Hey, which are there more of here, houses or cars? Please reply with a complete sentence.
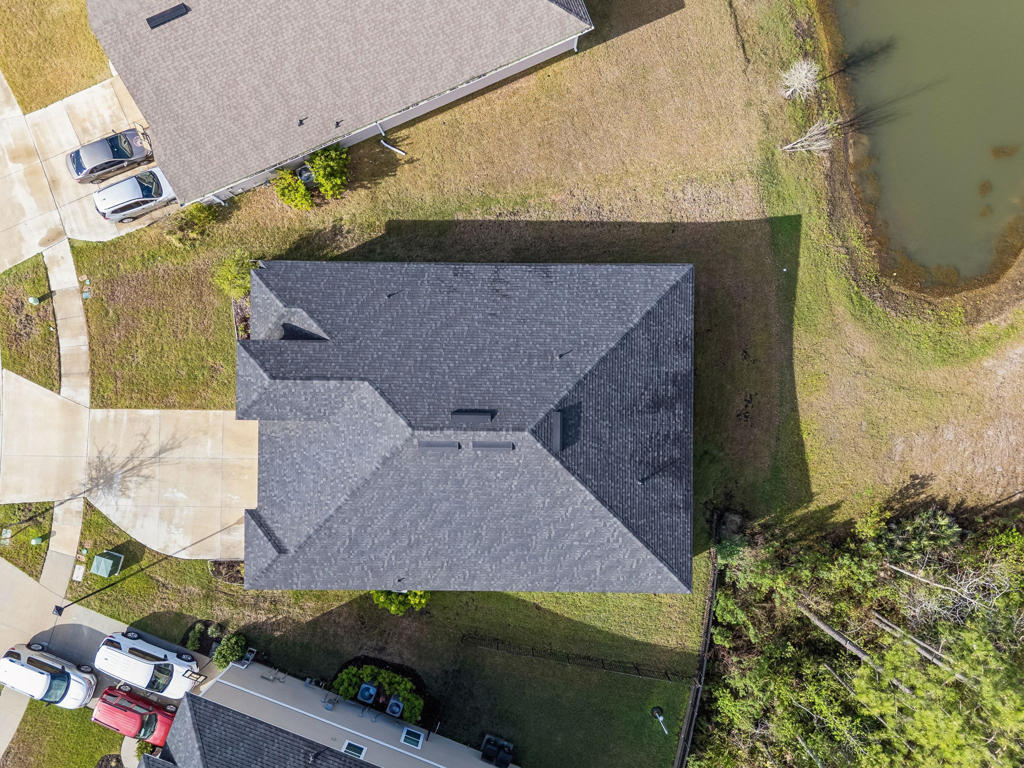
In this view, cars are more numerous than houses.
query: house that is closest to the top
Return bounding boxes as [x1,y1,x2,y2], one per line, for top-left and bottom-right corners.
[85,0,597,209]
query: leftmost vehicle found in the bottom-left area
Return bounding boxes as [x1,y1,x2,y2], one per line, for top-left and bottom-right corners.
[0,639,101,709]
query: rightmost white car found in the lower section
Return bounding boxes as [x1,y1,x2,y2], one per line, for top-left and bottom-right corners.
[94,628,203,698]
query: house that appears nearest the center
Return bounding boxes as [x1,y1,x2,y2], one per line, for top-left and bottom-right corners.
[234,259,695,595]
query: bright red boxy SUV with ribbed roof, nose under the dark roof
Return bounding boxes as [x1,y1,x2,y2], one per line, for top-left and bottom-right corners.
[87,679,179,748]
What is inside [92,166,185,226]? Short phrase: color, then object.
white car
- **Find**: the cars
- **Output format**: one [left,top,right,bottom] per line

[94,628,203,698]
[92,166,185,226]
[60,126,160,188]
[87,679,179,748]
[0,639,101,709]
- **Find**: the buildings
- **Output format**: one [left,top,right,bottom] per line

[85,0,597,209]
[234,259,695,595]
[139,657,522,768]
